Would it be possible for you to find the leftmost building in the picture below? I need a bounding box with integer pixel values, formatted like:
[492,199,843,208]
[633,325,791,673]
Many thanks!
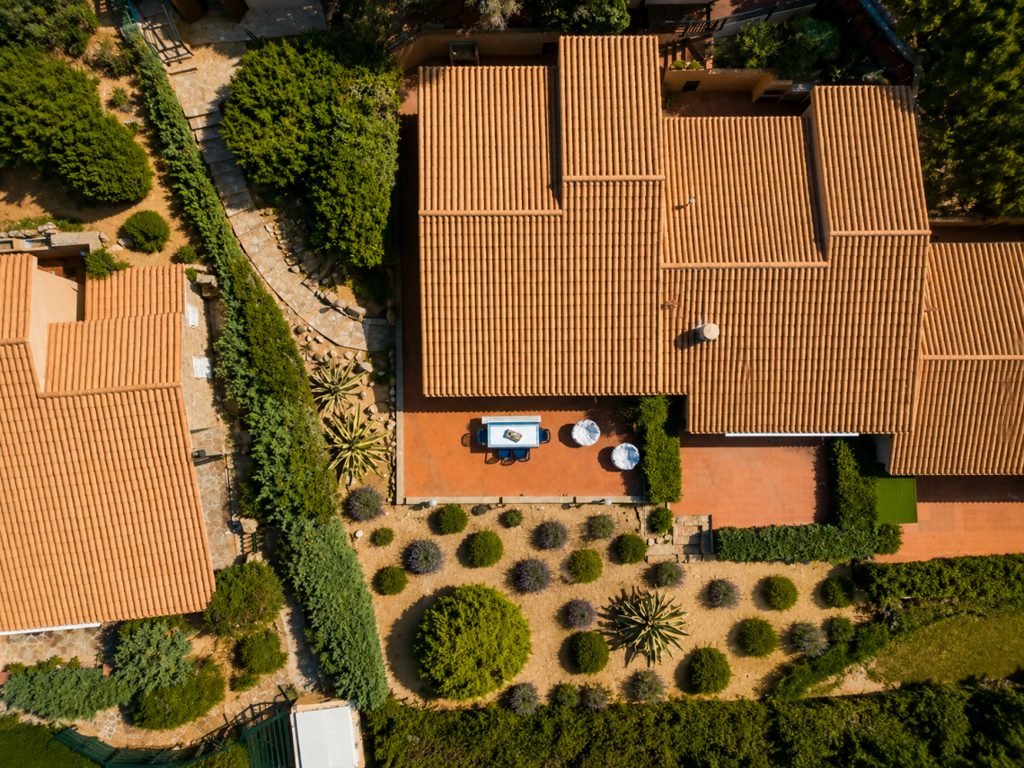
[0,257,234,628]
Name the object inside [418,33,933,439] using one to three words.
house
